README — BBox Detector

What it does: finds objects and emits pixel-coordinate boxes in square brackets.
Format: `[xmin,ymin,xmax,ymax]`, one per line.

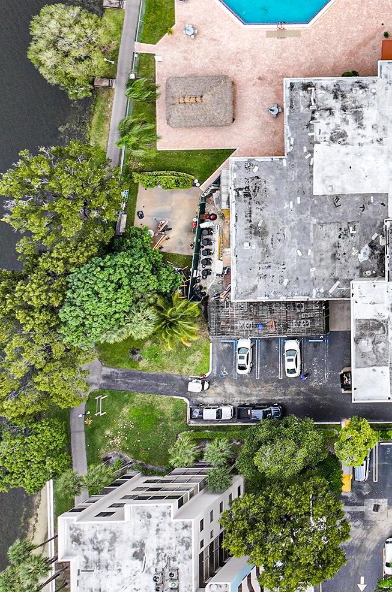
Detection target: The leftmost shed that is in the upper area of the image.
[163,73,236,129]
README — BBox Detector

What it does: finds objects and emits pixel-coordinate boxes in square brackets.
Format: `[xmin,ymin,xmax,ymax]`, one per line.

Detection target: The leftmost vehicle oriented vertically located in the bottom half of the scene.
[235,338,254,375]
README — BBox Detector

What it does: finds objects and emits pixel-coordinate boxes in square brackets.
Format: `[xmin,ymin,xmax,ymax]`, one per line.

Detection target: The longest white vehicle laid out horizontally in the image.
[194,404,235,422]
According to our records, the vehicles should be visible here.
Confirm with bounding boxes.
[383,537,392,573]
[353,450,370,484]
[283,339,302,377]
[235,338,254,375]
[194,404,235,422]
[188,376,214,390]
[238,403,281,421]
